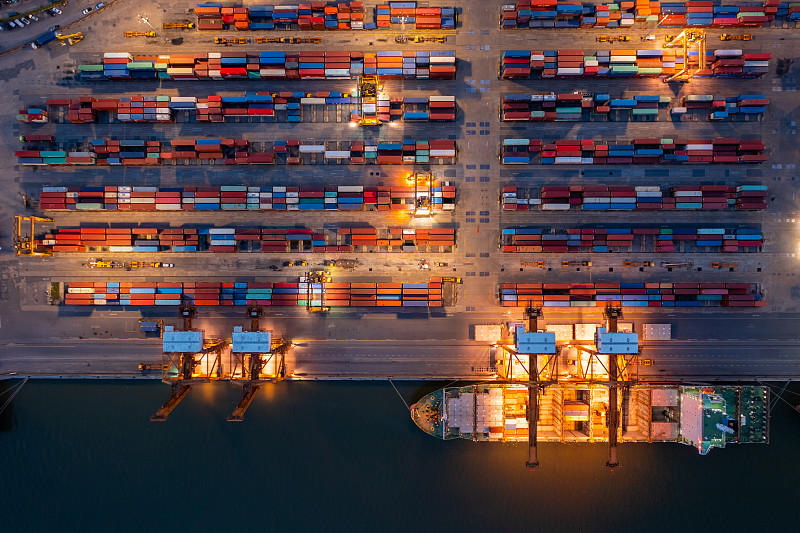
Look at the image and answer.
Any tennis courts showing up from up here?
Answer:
No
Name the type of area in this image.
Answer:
port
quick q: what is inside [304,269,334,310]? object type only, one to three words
container crane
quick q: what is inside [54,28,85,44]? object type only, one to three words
work vehicle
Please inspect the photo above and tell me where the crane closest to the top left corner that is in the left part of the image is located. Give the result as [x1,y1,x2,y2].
[15,214,62,256]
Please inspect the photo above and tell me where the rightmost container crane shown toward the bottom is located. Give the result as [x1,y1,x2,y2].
[569,299,642,472]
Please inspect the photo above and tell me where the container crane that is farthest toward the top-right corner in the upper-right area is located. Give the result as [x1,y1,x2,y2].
[662,30,704,82]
